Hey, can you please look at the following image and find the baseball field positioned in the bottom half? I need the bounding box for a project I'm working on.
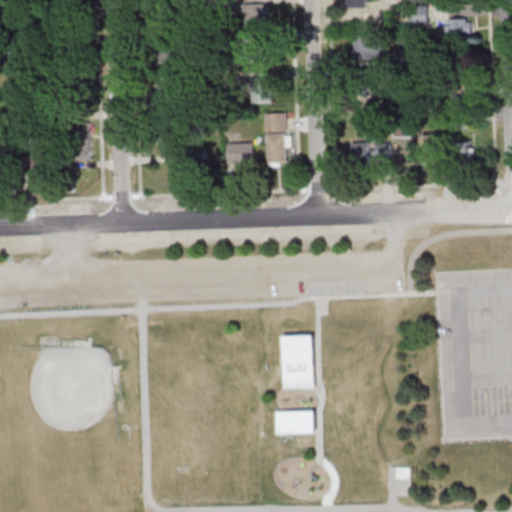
[30,346,114,431]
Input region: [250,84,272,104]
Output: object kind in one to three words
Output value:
house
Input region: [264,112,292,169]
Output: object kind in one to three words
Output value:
house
